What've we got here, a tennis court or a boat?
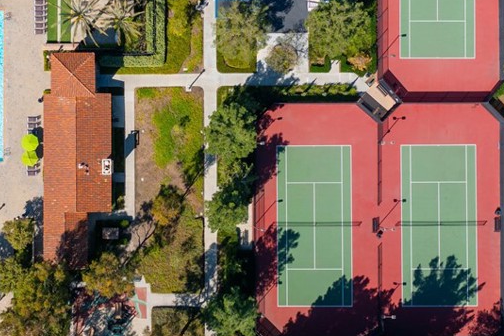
tennis court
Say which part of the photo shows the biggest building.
left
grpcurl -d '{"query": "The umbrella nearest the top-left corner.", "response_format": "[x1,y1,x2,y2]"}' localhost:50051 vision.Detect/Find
[22,134,38,150]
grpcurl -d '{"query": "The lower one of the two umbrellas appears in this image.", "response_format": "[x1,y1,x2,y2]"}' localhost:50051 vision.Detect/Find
[22,151,39,166]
